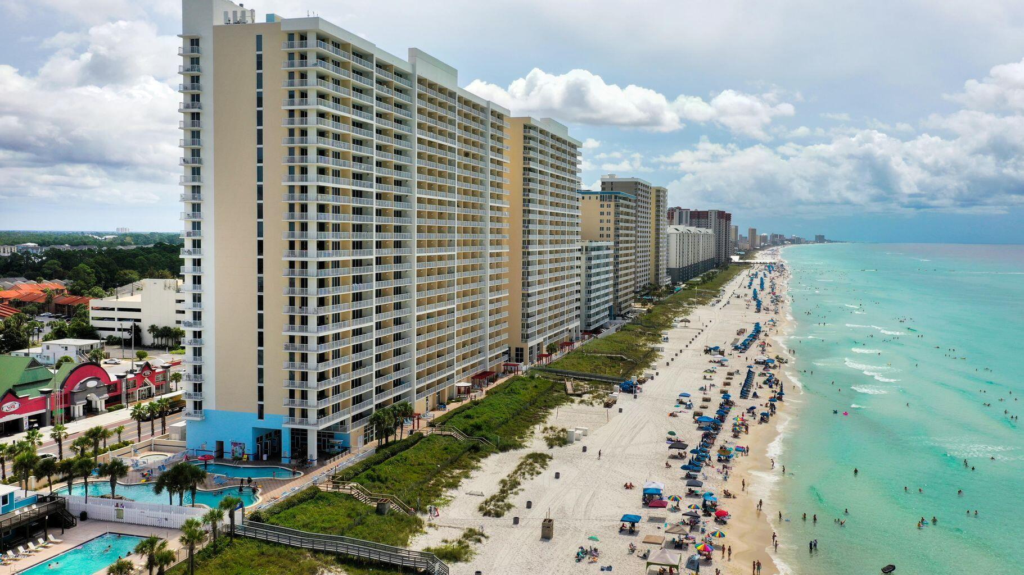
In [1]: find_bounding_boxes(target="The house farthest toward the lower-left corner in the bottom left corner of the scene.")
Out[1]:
[0,481,89,545]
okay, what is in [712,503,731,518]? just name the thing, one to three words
umbrella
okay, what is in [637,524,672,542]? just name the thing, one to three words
tent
